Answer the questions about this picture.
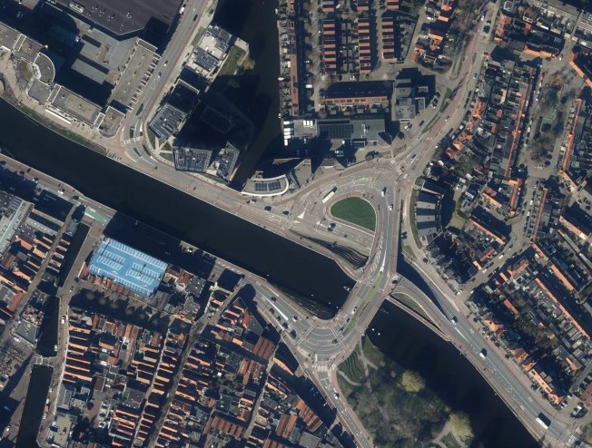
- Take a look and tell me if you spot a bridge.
Yes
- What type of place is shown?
residential area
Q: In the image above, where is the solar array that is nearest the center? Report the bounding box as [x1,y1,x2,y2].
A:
[250,177,287,195]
